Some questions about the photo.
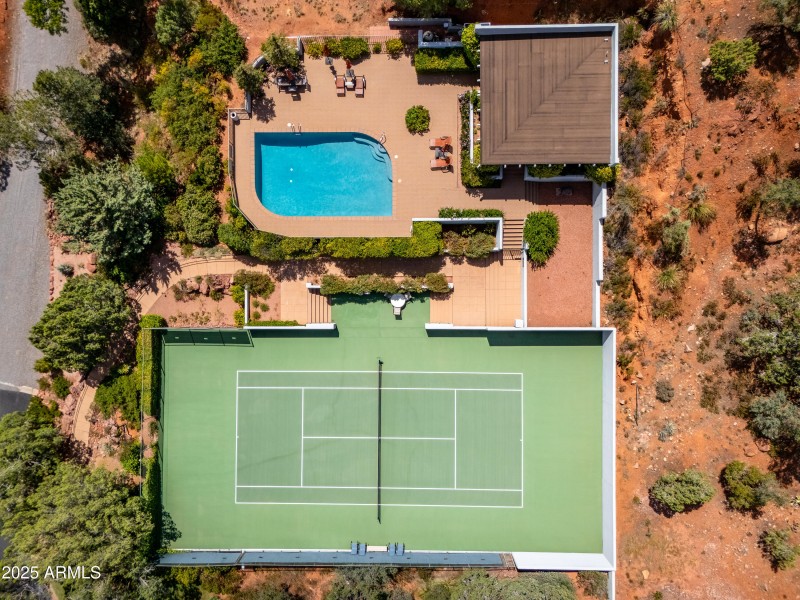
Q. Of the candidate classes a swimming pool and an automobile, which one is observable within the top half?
swimming pool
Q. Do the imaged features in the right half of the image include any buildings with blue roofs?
No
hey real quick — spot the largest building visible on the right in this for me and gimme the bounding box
[470,24,620,177]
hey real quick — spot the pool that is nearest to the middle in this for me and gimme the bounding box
[250,127,397,221]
